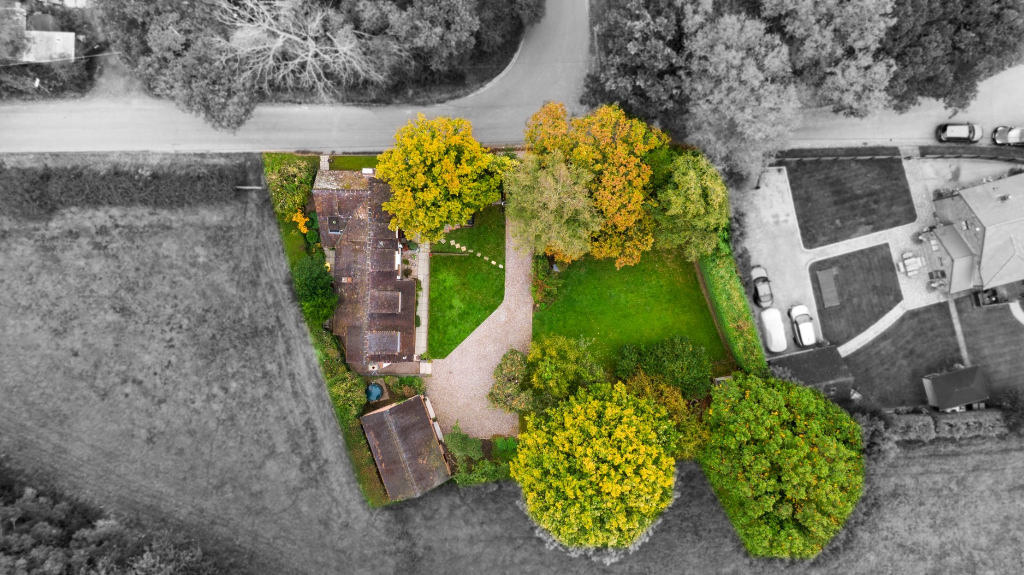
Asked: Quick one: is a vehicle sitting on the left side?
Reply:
No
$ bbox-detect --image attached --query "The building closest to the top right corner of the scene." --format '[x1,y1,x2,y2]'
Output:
[920,173,1024,295]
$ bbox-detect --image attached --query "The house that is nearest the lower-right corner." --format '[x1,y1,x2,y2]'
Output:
[919,364,990,412]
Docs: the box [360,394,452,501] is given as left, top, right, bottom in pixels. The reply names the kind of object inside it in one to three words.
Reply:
building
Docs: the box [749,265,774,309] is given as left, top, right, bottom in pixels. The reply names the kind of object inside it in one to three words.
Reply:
car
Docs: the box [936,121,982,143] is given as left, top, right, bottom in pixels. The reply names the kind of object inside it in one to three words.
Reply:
car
